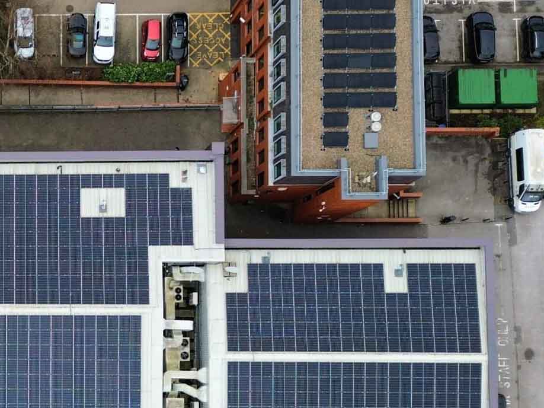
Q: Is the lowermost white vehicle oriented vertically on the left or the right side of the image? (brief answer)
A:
right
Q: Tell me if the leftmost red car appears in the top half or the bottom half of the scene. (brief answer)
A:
top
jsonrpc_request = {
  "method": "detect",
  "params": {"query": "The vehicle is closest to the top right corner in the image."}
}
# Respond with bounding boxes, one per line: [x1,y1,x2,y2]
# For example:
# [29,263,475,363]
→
[520,15,544,63]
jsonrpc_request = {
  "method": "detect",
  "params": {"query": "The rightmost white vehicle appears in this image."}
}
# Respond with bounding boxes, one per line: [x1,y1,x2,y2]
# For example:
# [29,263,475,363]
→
[508,130,544,211]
